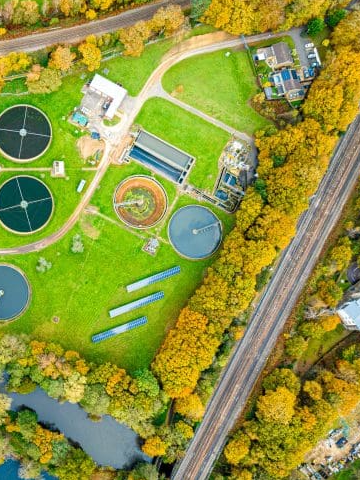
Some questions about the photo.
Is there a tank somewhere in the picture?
Yes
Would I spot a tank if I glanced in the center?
Yes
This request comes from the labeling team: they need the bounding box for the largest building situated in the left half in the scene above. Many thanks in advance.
[90,75,127,119]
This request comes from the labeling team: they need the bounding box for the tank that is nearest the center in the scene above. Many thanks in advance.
[167,203,223,259]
